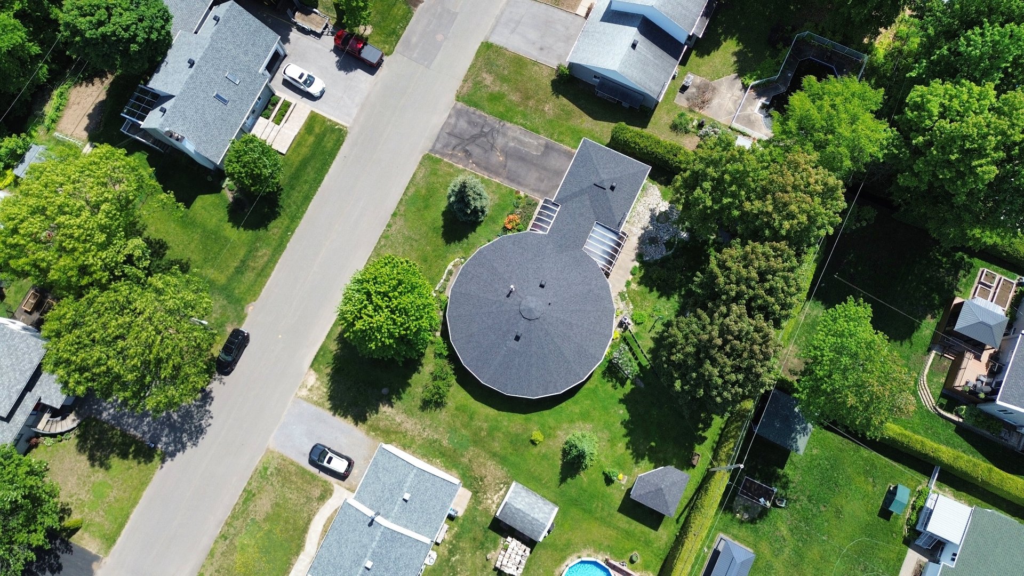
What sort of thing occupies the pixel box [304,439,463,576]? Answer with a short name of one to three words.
house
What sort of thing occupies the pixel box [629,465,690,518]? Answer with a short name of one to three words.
gazebo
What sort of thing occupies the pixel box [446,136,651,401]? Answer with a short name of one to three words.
house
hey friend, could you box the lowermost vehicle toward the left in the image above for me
[307,446,357,478]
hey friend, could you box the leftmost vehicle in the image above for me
[219,325,253,377]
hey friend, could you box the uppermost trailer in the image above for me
[284,1,339,35]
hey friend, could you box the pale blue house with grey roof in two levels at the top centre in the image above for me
[565,0,719,116]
